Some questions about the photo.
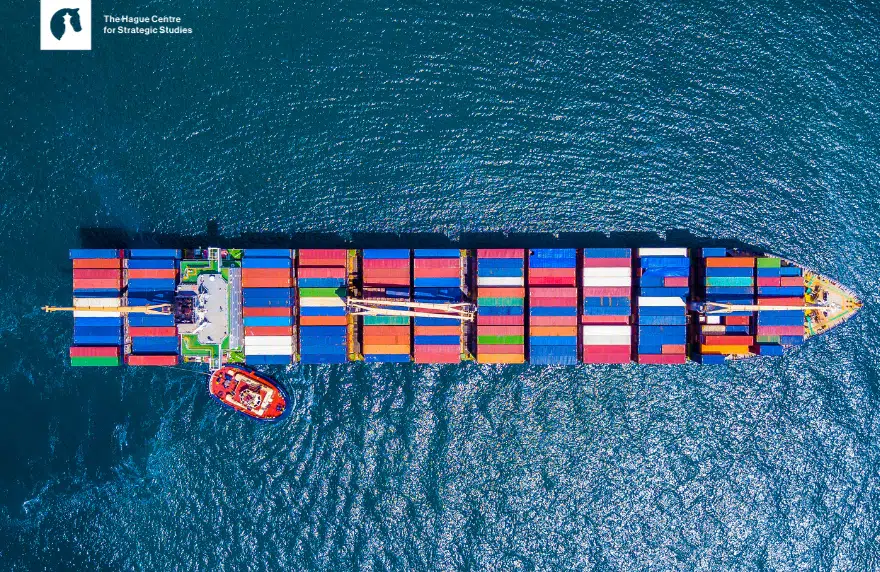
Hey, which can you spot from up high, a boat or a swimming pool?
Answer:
boat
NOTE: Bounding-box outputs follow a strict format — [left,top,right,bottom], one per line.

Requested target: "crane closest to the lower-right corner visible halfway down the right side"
[688,302,834,318]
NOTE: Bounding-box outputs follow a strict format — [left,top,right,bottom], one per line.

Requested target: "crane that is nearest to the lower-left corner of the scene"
[40,300,172,314]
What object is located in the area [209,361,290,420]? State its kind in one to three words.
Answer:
boat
